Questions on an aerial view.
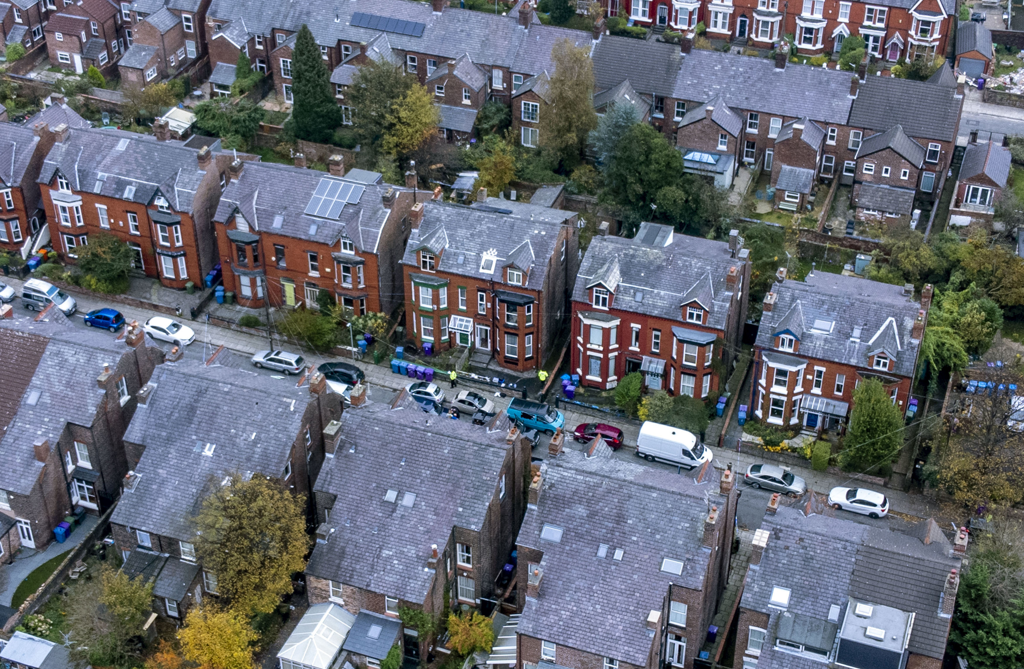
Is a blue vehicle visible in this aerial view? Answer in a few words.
Yes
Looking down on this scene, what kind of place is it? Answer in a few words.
residential area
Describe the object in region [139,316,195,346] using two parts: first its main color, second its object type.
white car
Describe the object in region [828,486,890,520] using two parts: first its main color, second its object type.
white car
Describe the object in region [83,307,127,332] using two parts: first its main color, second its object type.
blue car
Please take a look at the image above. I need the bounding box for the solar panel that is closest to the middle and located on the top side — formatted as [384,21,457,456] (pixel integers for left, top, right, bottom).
[461,200,523,213]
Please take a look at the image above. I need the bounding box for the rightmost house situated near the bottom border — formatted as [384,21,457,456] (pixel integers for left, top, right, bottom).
[730,488,968,669]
